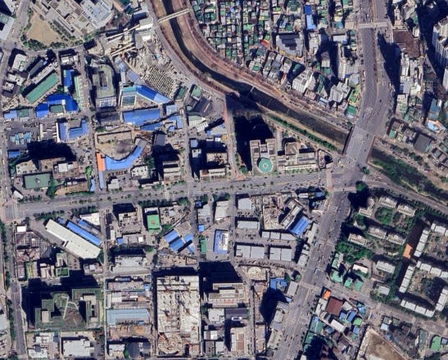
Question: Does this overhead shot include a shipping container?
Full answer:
No, the picture doesn't show any shipping container.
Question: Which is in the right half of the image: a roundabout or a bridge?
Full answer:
You can see a bridge in the right half of the image.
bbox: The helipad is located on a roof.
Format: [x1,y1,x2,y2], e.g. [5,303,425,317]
[258,157,274,173]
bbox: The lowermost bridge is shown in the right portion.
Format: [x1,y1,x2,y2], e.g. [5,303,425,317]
[340,113,385,170]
